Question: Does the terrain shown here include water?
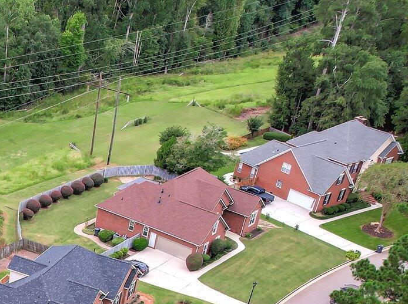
No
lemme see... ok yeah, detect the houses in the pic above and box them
[0,245,148,304]
[236,115,408,211]
[93,163,266,258]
